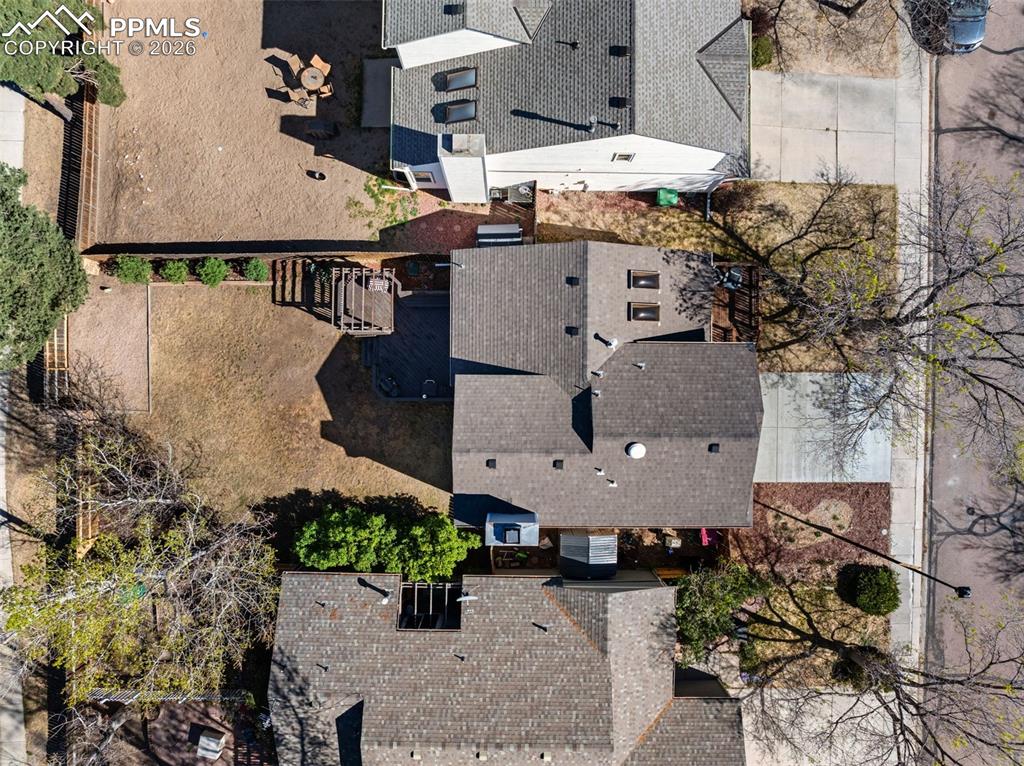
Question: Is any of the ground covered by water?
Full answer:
No, the picture contains no water.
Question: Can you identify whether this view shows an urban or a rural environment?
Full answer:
The area shown here is urban.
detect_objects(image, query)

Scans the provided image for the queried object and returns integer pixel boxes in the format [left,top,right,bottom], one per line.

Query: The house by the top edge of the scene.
[380,0,752,221]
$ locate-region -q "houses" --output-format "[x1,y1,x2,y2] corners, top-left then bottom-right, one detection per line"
[448,241,767,546]
[268,562,746,766]
[380,0,752,221]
